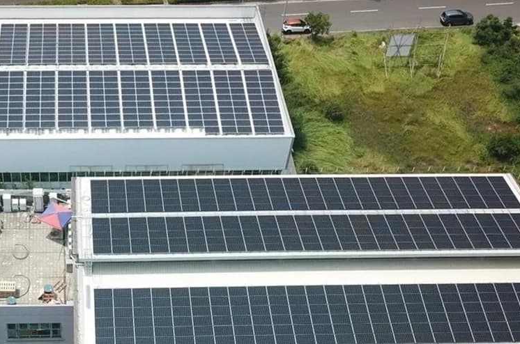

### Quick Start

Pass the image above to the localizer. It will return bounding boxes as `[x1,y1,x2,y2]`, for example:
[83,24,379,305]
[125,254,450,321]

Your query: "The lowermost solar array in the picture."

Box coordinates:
[94,283,520,344]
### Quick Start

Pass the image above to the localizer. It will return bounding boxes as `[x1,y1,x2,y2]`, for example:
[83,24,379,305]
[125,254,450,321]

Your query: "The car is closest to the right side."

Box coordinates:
[439,7,473,23]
